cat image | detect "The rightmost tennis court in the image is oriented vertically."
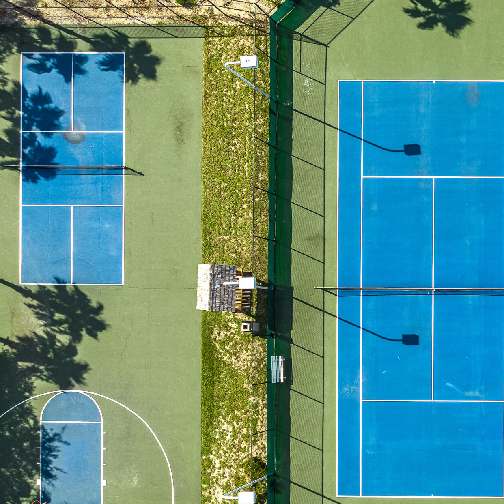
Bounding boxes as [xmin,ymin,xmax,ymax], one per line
[336,81,504,498]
